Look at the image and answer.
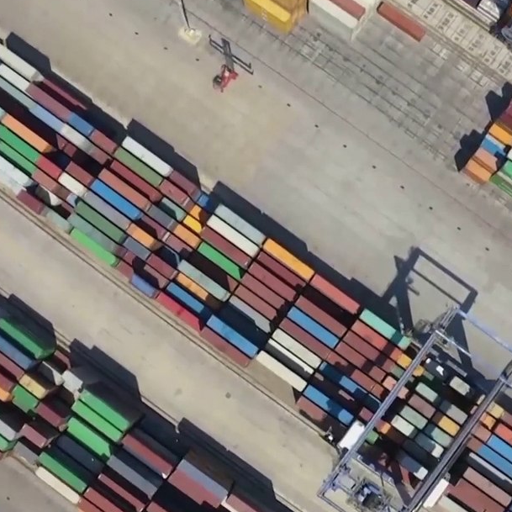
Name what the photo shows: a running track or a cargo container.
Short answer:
cargo container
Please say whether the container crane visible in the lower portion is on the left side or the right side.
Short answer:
right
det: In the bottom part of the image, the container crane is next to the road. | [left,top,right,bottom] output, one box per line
[319,306,512,512]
